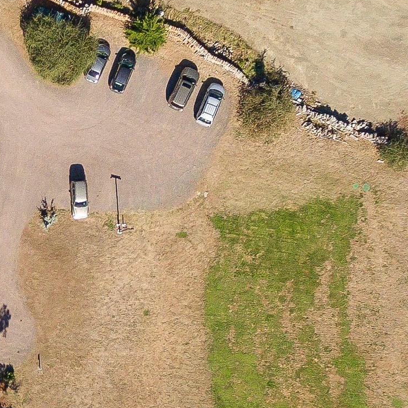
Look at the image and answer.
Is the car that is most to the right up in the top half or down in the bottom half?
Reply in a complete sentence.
Seen from above, the car that is most to the right lies in the top half of the view.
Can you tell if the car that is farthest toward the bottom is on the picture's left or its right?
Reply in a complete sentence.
The car that is farthest toward the bottom appears in the left half of the scene.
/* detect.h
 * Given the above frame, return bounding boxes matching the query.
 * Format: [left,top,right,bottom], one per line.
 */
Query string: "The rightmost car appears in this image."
[195,80,225,129]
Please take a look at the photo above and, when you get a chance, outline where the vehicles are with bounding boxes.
[195,80,225,129]
[84,40,112,84]
[32,0,74,21]
[110,47,137,95]
[167,63,197,112]
[67,178,90,222]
